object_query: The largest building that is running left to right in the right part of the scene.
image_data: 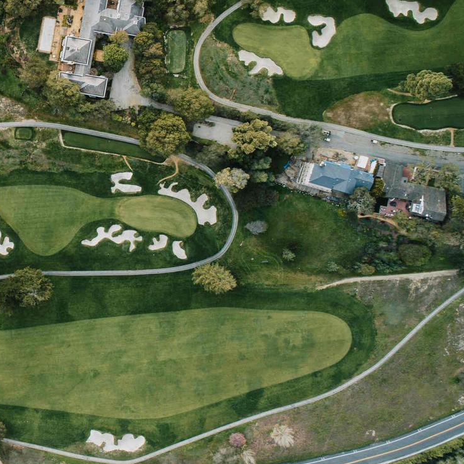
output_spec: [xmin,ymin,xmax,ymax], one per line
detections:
[308,162,374,195]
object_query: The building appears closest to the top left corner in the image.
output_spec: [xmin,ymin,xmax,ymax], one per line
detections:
[60,0,146,96]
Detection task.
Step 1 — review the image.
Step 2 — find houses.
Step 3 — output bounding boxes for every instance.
[379,162,447,217]
[60,0,146,96]
[308,162,374,195]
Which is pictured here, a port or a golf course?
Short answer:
golf course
